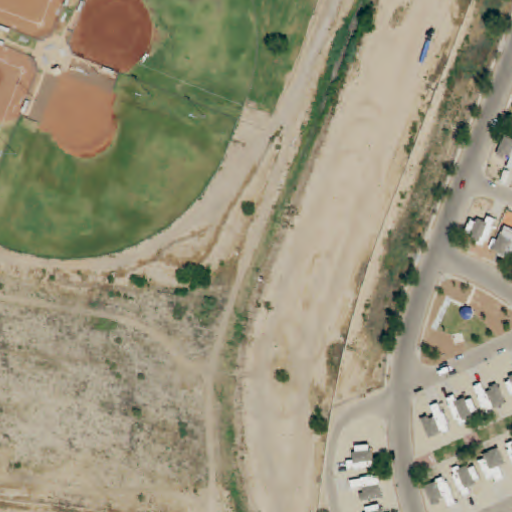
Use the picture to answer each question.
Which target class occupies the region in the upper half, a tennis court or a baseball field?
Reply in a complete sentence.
What appears in the upper half is a baseball field.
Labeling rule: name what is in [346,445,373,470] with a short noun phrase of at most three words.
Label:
house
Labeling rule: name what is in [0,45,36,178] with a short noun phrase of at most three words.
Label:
baseball field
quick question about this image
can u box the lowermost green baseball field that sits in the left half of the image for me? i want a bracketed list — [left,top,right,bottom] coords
[0,69,243,258]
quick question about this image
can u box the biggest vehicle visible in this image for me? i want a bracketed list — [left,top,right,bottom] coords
[418,30,432,61]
